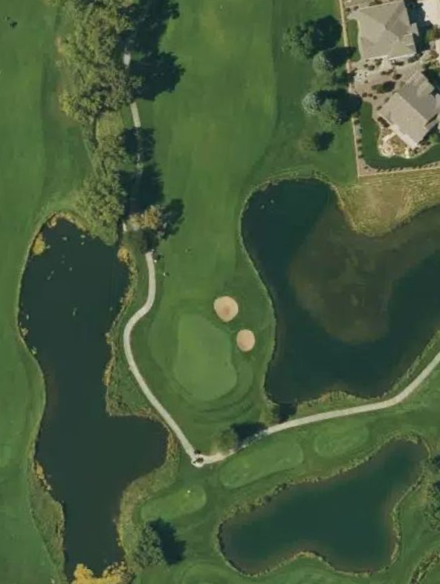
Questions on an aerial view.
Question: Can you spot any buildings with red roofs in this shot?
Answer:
No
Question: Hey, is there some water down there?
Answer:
Yes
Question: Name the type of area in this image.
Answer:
golf course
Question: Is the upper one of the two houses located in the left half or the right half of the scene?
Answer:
right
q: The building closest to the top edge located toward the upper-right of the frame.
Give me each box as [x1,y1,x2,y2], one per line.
[356,0,420,60]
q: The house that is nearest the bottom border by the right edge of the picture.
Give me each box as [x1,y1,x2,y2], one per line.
[378,70,440,141]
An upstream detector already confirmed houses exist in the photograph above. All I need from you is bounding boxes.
[378,70,440,141]
[356,0,420,60]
